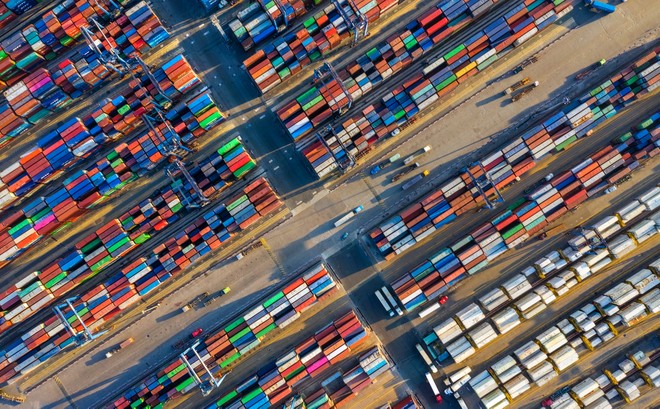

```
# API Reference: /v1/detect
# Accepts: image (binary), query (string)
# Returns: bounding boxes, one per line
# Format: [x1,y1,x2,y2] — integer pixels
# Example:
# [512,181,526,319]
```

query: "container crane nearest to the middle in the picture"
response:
[311,125,354,179]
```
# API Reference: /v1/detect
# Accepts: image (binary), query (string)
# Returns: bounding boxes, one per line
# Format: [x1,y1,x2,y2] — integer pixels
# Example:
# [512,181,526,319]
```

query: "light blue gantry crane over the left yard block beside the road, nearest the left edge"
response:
[53,290,111,346]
